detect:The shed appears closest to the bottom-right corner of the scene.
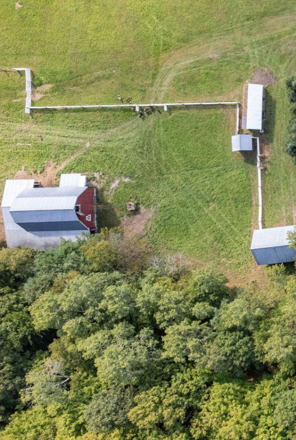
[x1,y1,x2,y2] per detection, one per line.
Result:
[252,224,296,265]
